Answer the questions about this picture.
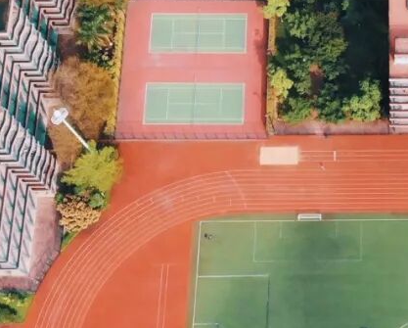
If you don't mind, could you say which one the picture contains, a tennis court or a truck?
tennis court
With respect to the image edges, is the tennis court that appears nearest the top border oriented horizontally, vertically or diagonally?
horizontally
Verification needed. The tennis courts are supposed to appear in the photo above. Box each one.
[142,79,246,127]
[147,13,248,53]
